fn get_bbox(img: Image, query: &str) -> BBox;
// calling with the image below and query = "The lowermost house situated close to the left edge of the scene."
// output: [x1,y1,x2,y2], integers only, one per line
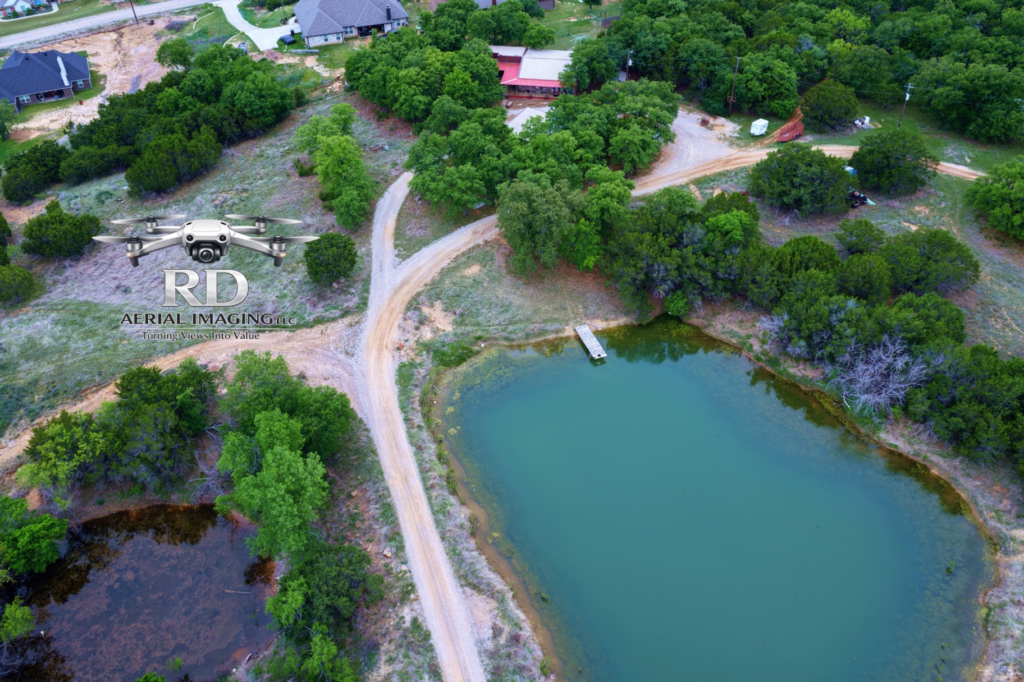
[0,38,91,105]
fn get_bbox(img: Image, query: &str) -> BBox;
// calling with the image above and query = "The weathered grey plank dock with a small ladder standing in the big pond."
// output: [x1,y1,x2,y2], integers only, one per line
[575,325,607,361]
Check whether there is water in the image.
Yes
